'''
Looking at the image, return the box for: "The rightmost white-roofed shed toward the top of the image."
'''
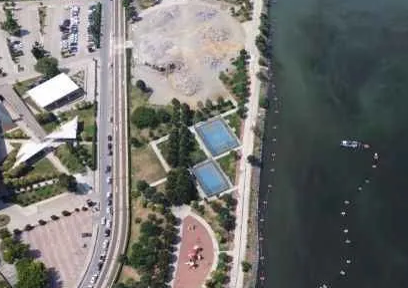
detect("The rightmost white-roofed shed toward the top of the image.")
[27,73,82,111]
